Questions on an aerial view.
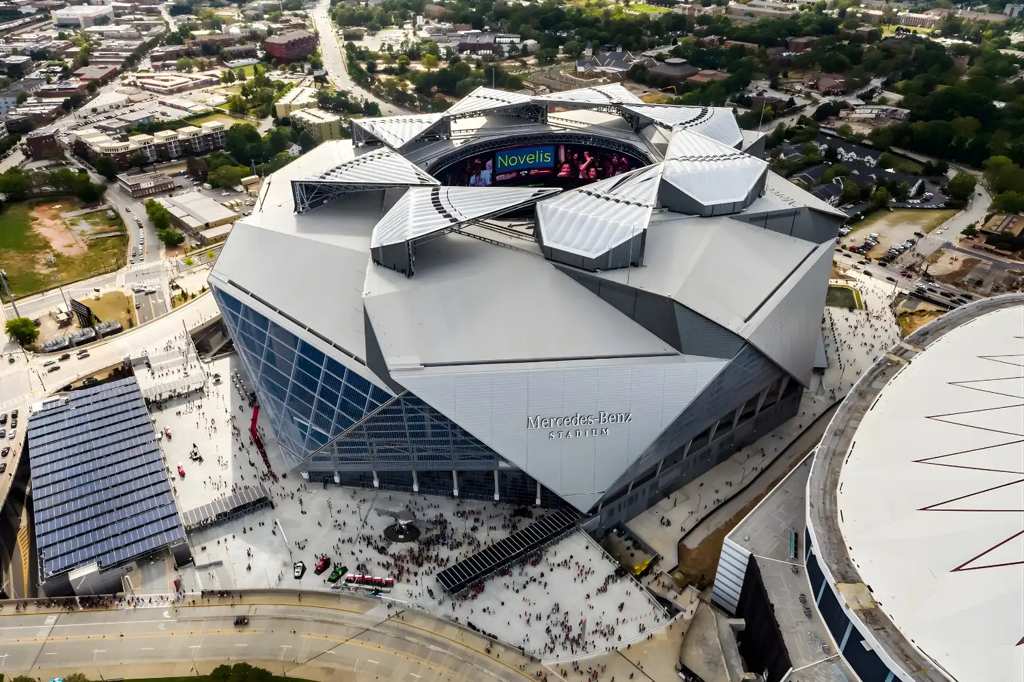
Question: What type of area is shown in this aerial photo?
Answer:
sports ground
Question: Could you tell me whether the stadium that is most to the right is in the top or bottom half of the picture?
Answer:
bottom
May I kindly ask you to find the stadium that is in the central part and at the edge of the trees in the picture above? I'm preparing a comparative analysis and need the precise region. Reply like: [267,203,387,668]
[206,82,848,539]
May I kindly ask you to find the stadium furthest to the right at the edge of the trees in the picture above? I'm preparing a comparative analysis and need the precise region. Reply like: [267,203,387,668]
[714,293,1024,682]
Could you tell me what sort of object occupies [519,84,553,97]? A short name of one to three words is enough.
house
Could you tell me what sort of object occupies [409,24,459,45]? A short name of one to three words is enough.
building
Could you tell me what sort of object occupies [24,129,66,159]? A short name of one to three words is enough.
building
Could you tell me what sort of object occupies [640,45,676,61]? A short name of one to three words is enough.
shed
